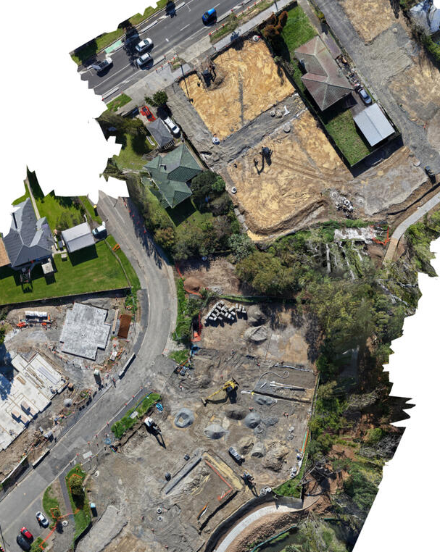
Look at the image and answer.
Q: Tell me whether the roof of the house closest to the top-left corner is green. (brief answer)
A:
No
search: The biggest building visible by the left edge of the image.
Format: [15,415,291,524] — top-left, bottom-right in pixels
[1,199,56,271]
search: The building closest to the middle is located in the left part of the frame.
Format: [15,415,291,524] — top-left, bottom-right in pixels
[143,142,200,210]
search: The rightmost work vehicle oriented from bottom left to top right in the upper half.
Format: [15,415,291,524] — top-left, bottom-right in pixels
[254,142,272,170]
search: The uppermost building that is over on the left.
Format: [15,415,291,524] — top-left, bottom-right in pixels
[146,118,174,149]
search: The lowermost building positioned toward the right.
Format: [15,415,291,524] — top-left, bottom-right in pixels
[354,104,395,147]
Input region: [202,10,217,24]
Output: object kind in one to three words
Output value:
car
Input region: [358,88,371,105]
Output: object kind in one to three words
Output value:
vehicle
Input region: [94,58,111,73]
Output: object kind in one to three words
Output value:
vehicle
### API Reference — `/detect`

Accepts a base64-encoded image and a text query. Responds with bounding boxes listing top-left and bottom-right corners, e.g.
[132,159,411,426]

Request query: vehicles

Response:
[202,10,217,24]
[20,526,33,540]
[94,58,111,73]
[203,378,242,401]
[17,534,31,551]
[136,39,152,52]
[142,415,165,436]
[358,88,371,105]
[254,142,272,170]
[201,62,217,80]
[227,446,245,463]
[242,469,256,488]
[140,105,154,122]
[165,117,179,134]
[421,165,436,178]
[90,226,109,237]
[137,54,151,66]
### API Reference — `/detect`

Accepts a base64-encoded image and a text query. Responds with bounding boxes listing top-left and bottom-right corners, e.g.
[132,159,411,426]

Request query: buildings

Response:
[293,33,353,111]
[1,199,56,271]
[146,118,174,149]
[354,104,395,147]
[62,223,95,252]
[411,0,440,39]
[143,142,200,210]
